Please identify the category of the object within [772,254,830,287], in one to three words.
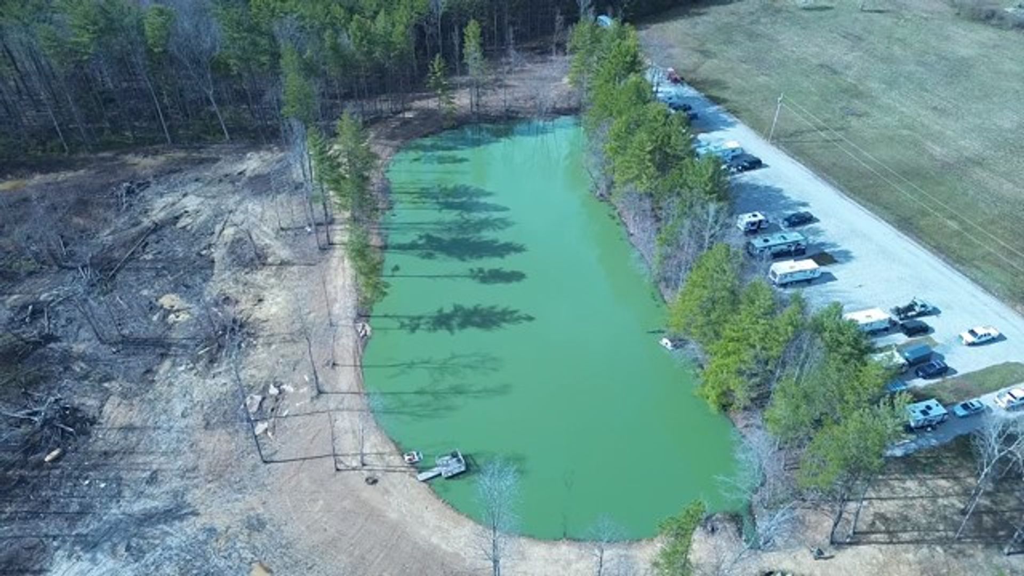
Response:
camper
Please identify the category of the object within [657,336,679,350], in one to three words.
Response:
boat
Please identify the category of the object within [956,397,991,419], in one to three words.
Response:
car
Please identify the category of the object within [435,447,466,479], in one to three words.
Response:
pier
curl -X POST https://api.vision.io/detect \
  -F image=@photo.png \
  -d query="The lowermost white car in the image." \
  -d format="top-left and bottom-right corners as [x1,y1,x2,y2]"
[997,386,1024,409]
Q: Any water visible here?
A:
Yes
